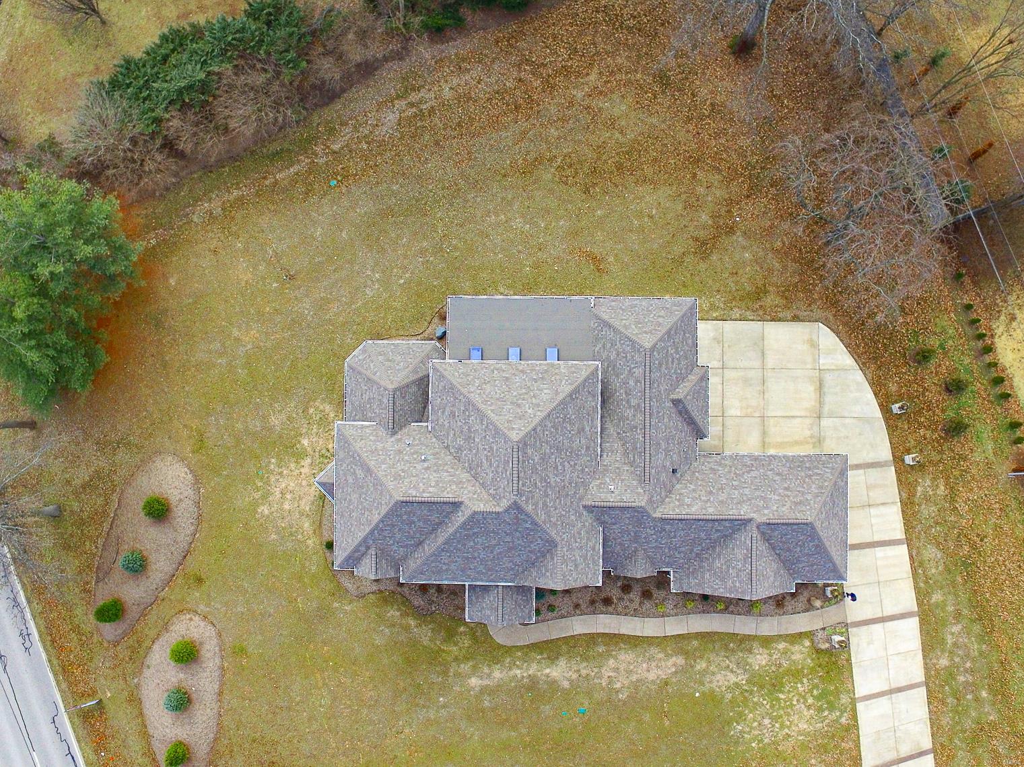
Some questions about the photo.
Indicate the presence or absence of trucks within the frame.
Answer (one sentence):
No, I find no truck anywhere in the image.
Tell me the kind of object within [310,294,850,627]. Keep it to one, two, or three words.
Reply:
house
